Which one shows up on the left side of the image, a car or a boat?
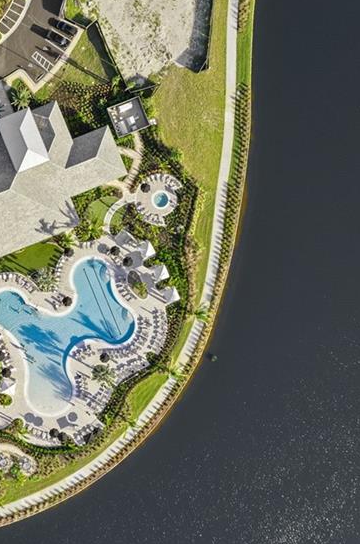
car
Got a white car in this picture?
No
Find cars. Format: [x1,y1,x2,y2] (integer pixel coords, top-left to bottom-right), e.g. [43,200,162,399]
[47,31,69,48]
[56,21,77,37]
